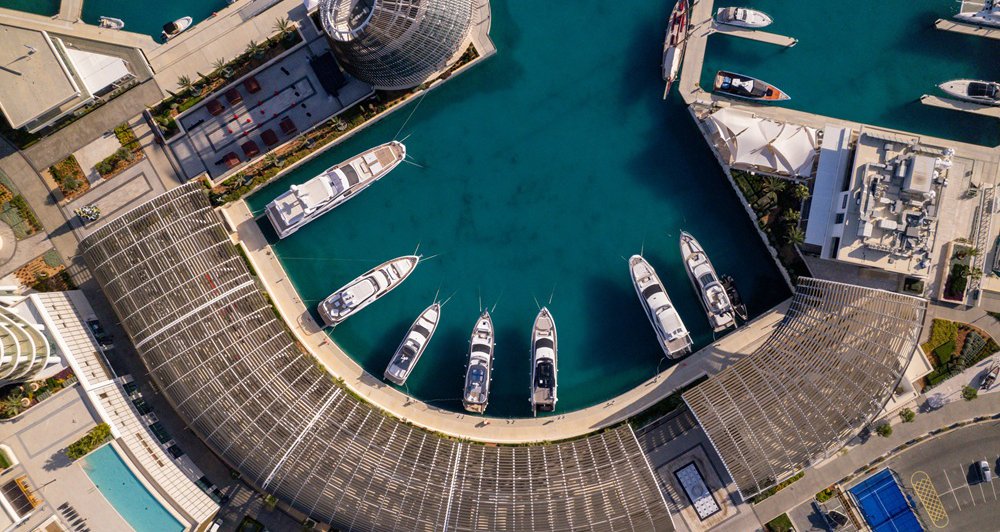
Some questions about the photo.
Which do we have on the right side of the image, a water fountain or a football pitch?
water fountain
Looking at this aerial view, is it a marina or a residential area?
marina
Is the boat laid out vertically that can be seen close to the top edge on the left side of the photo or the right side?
right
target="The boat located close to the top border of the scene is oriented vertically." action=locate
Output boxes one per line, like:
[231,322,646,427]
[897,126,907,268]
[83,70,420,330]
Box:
[662,0,694,99]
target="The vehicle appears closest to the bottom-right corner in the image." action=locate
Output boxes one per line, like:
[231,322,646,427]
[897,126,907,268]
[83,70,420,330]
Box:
[978,460,992,481]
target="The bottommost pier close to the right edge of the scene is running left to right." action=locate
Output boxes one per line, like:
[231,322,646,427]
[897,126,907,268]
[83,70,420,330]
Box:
[917,95,1000,119]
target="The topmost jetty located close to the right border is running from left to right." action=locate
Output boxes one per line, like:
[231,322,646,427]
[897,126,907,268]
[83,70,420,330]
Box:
[932,19,1000,41]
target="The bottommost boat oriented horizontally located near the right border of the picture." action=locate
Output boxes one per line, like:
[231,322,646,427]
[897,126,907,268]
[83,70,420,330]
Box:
[935,80,1000,106]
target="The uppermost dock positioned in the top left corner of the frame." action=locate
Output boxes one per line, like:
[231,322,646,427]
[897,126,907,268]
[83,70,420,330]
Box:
[59,0,88,22]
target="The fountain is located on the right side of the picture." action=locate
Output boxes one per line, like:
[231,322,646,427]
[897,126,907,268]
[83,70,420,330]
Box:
[675,462,721,519]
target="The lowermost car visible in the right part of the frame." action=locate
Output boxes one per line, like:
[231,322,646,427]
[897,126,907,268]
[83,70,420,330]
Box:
[827,511,849,526]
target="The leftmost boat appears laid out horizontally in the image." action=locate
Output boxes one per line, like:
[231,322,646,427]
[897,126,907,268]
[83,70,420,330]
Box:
[98,17,125,29]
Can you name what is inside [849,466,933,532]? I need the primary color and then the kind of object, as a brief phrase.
blue sports court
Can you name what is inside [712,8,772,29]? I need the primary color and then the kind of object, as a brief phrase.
white boat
